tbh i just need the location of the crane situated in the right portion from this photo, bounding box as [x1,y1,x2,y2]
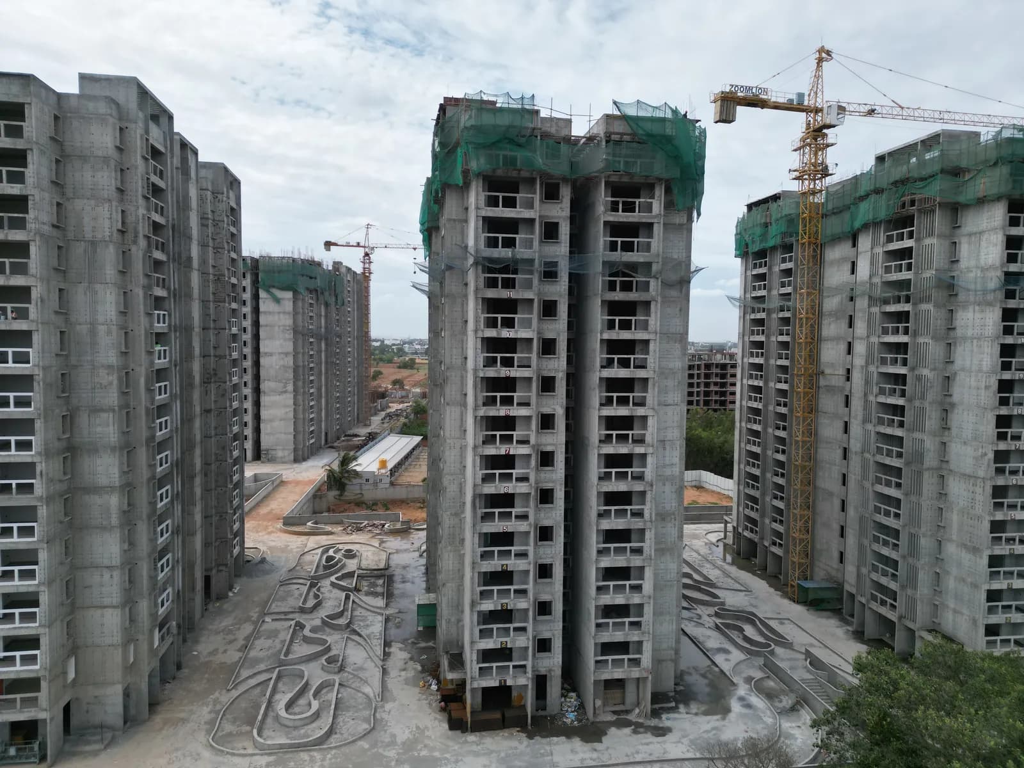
[704,44,1024,606]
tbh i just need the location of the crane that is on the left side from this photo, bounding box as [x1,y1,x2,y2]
[326,223,430,424]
